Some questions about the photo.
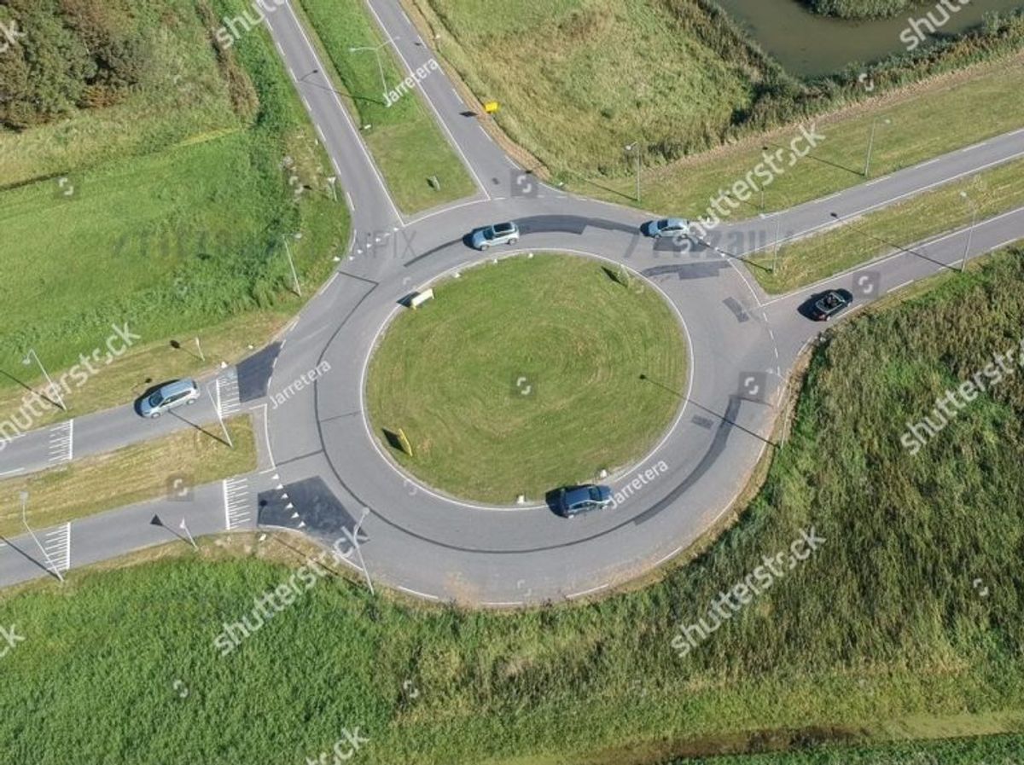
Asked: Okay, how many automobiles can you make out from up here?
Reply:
5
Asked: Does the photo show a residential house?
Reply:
No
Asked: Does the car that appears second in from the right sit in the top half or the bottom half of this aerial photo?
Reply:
top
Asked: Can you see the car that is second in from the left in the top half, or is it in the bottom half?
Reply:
top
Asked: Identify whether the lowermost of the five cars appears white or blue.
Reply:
blue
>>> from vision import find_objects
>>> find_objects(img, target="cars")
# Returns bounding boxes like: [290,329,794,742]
[474,222,521,250]
[140,378,200,418]
[649,217,693,238]
[811,288,854,321]
[555,483,614,519]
